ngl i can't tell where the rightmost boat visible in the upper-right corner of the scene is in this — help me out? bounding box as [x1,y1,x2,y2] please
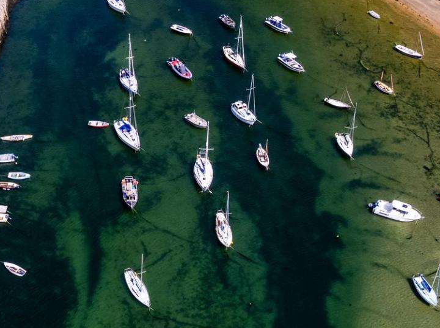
[394,35,427,63]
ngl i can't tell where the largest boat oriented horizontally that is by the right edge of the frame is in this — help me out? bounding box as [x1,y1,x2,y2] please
[372,205,427,223]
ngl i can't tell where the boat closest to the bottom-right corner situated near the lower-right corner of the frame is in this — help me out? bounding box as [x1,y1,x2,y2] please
[411,259,440,313]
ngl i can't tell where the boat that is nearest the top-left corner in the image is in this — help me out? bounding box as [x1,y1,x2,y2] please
[104,0,125,15]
